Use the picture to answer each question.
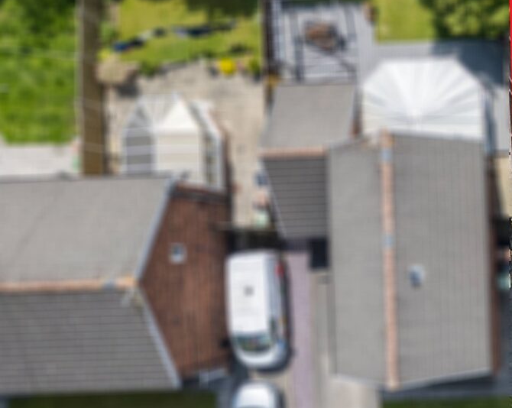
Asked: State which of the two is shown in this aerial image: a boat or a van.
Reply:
van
